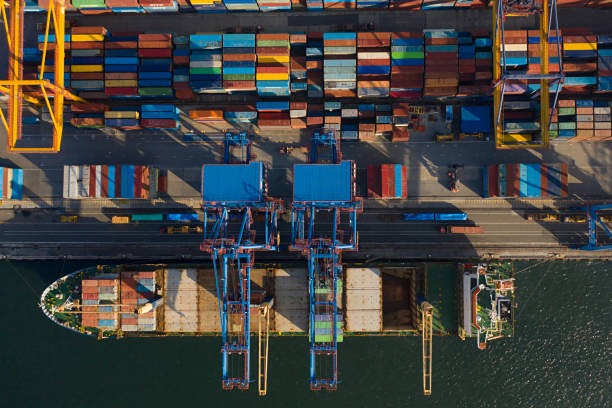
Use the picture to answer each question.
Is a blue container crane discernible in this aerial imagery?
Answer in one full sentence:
Yes, you can see a blue container crane in this photo.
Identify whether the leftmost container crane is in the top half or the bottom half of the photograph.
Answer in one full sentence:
You can find the leftmost container crane in the top half.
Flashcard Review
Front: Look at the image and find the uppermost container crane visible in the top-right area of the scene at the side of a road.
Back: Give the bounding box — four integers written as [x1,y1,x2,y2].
[465,0,568,149]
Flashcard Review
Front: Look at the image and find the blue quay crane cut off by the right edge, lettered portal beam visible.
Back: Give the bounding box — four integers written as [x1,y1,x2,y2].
[570,204,612,250]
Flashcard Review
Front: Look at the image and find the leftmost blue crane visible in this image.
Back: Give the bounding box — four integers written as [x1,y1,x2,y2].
[197,123,284,391]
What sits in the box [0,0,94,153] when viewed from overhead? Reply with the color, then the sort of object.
orange container crane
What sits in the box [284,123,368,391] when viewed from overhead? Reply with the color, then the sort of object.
blue container crane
